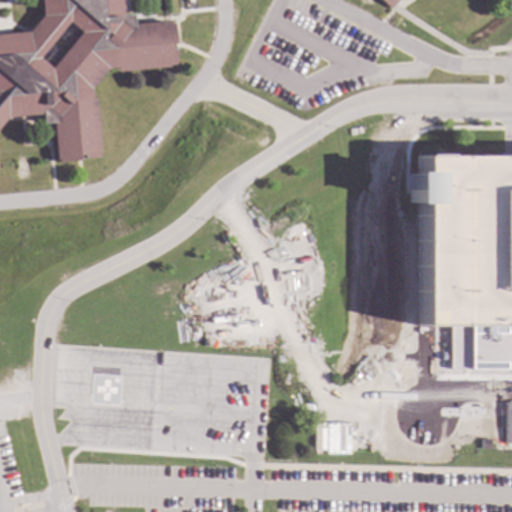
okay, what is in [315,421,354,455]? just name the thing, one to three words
shed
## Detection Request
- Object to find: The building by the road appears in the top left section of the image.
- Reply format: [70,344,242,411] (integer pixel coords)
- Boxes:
[0,0,180,162]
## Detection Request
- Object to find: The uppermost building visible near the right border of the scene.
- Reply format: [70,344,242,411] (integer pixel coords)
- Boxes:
[408,153,512,324]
